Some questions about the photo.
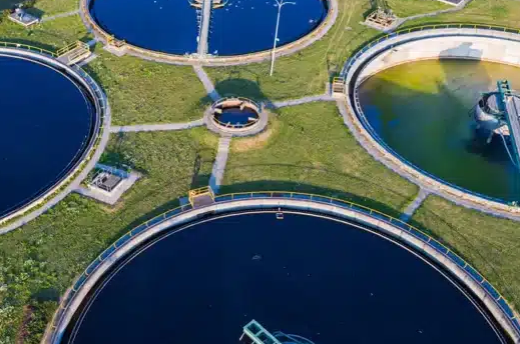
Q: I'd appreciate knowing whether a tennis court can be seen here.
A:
No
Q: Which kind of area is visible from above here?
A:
industrial area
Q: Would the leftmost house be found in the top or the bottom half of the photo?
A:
top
